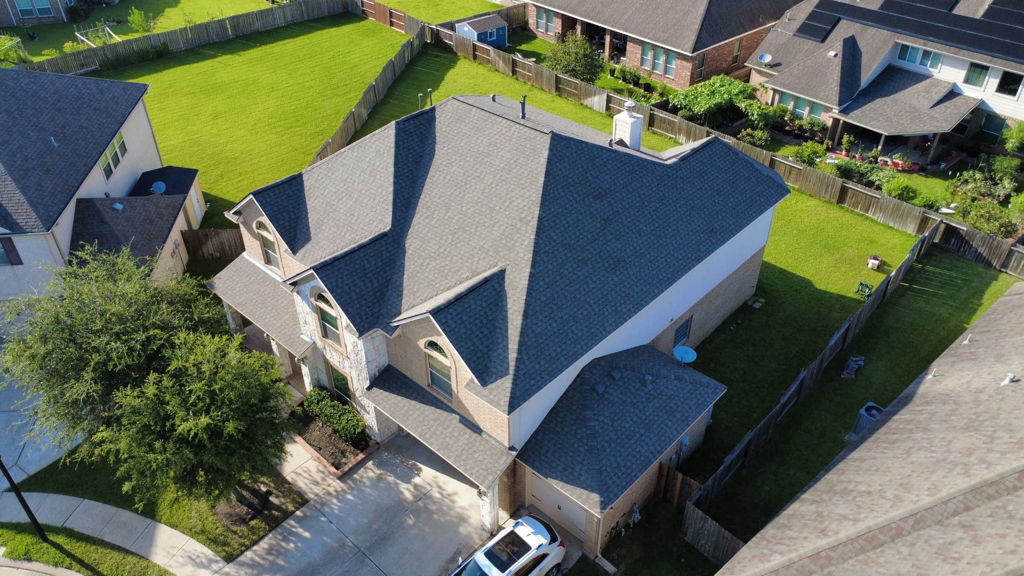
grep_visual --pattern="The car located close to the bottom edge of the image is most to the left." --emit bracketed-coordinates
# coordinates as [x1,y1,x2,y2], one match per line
[462,513,565,576]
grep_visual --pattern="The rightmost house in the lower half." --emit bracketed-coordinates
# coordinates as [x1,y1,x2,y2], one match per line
[714,278,1024,576]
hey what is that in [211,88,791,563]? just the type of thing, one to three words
house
